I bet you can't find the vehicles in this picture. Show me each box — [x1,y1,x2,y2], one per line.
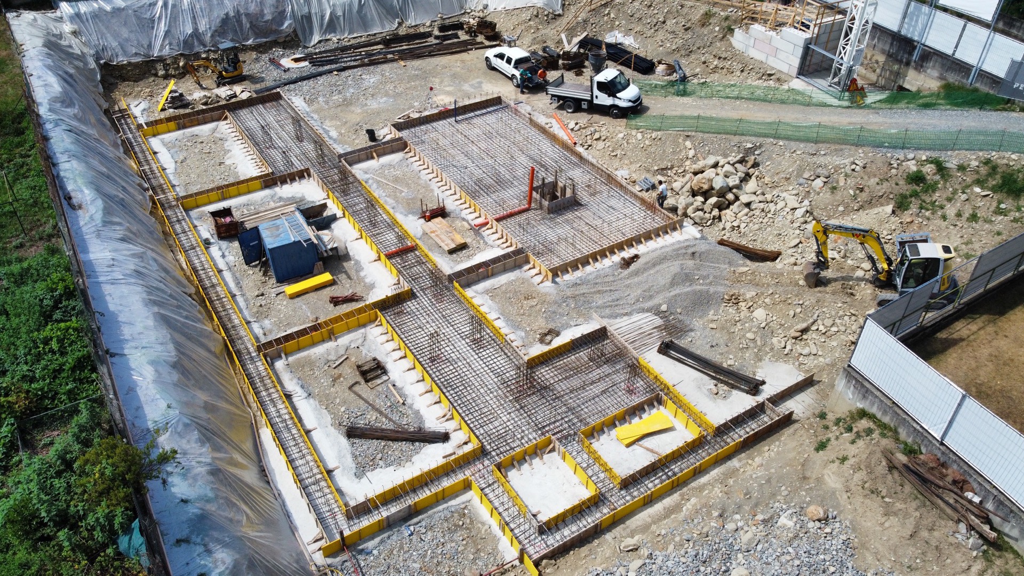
[801,218,962,312]
[184,43,243,85]
[540,71,648,119]
[491,48,549,87]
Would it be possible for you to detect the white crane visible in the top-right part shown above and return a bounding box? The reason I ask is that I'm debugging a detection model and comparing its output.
[827,0,884,88]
